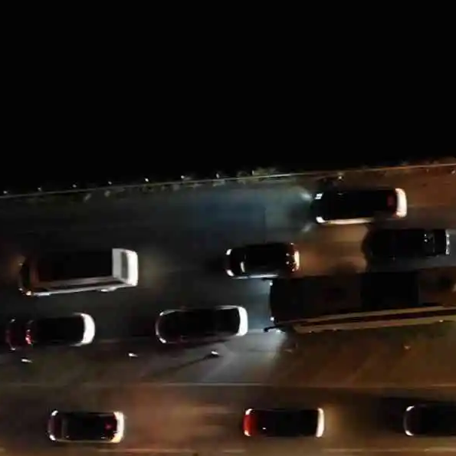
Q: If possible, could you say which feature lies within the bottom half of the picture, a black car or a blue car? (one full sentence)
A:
There is a black car within the bottom half of the picture.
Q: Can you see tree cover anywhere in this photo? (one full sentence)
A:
No, no tree cover is visible.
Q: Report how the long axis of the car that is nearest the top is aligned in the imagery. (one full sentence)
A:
The car that is nearest the top is oriented horizontally.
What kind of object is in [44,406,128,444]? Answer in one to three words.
car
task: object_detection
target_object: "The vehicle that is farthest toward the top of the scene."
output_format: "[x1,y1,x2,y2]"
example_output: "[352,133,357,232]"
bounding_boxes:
[314,182,409,226]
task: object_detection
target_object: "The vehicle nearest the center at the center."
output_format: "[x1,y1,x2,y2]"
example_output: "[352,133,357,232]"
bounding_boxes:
[223,238,303,279]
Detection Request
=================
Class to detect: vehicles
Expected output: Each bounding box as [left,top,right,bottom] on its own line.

[403,400,456,439]
[314,182,409,226]
[23,248,140,296]
[153,302,250,343]
[269,262,456,332]
[365,223,451,262]
[223,238,303,279]
[44,406,128,444]
[242,402,327,440]
[4,309,98,348]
